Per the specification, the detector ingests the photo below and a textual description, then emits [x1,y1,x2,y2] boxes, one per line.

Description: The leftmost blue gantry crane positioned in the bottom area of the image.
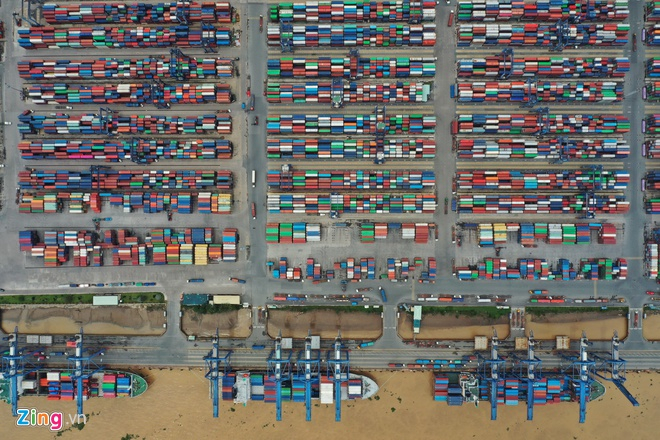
[4,325,48,417]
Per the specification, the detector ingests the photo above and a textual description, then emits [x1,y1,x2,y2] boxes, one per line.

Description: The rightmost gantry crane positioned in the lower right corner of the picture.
[587,330,641,408]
